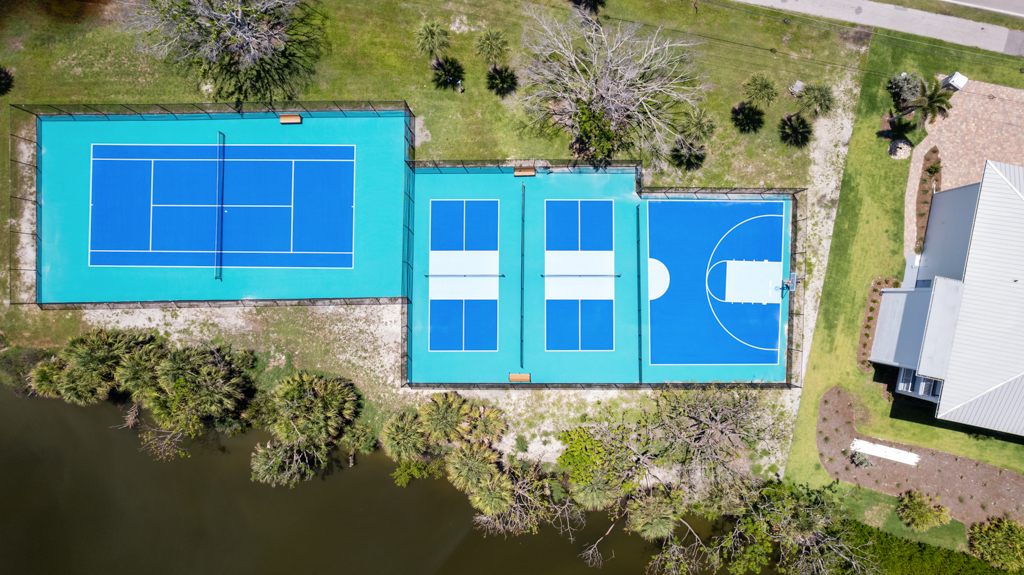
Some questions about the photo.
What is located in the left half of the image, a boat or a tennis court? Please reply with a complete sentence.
Looking in the left half of the image, you will find a tennis court.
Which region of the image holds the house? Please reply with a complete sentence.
The house is located in the right region of the scene.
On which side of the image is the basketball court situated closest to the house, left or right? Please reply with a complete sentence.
You can find the basketball court situated closest to the house on the right side of the picture.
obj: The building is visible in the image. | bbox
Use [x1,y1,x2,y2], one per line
[867,158,1024,436]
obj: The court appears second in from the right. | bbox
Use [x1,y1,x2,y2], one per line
[545,200,614,352]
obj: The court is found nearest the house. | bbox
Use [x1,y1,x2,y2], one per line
[648,200,784,364]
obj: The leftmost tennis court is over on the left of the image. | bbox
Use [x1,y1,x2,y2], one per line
[37,111,411,303]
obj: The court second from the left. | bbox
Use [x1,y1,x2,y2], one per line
[430,200,499,352]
